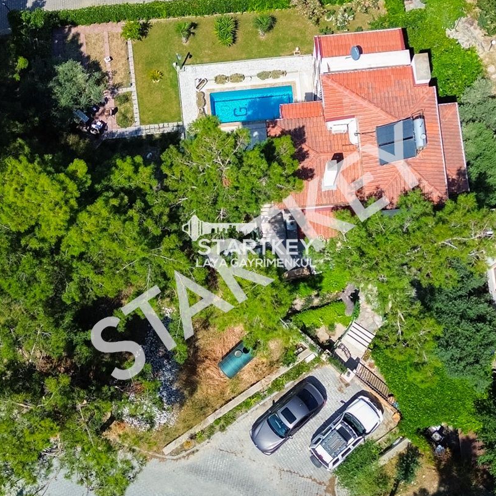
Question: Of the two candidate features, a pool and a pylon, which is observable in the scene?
pool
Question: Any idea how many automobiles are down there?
2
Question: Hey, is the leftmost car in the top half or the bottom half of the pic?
bottom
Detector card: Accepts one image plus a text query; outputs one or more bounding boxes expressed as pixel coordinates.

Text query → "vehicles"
[250,373,330,457]
[308,393,387,476]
